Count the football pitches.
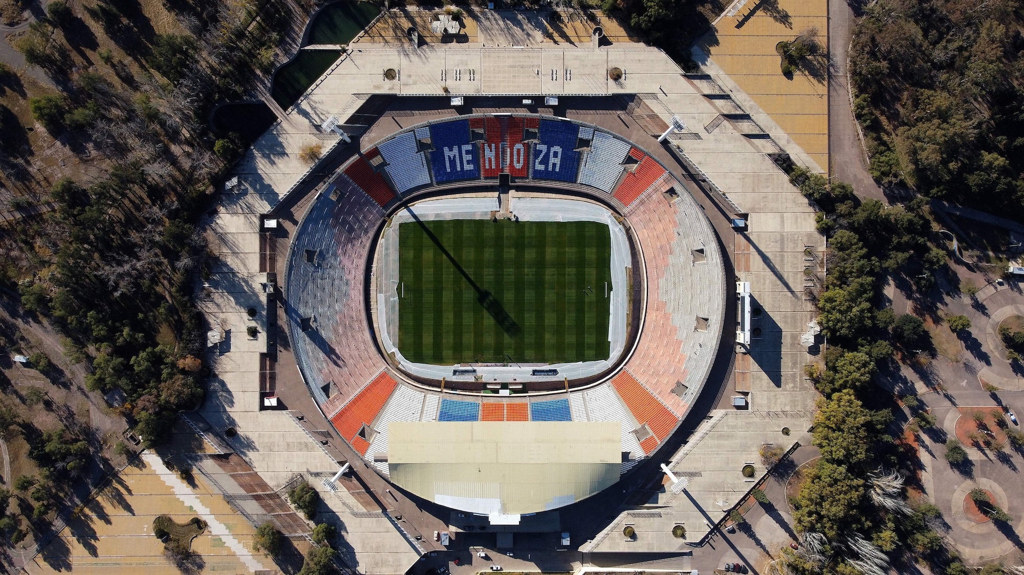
1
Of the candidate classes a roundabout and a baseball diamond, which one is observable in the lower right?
roundabout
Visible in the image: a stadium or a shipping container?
stadium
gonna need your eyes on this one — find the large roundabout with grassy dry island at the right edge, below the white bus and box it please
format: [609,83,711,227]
[988,299,1024,362]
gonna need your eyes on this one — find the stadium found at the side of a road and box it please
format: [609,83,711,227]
[282,111,728,548]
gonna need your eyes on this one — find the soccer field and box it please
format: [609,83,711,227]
[398,218,612,366]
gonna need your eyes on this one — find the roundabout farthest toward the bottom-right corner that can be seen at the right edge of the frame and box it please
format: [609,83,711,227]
[952,479,1007,534]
